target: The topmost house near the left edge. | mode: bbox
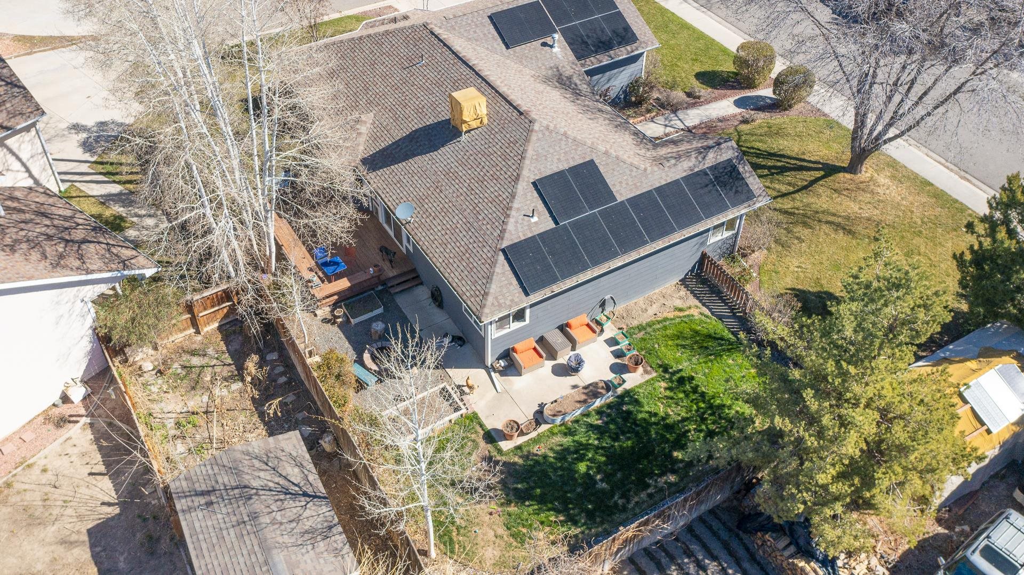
[0,61,162,440]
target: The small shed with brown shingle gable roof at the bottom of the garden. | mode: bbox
[169,429,376,575]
